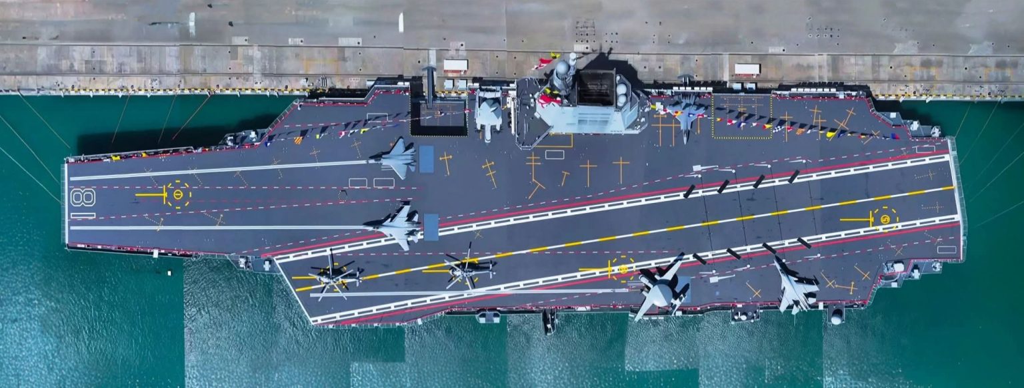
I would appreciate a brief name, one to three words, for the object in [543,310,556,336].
boat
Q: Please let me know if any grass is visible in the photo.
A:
No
